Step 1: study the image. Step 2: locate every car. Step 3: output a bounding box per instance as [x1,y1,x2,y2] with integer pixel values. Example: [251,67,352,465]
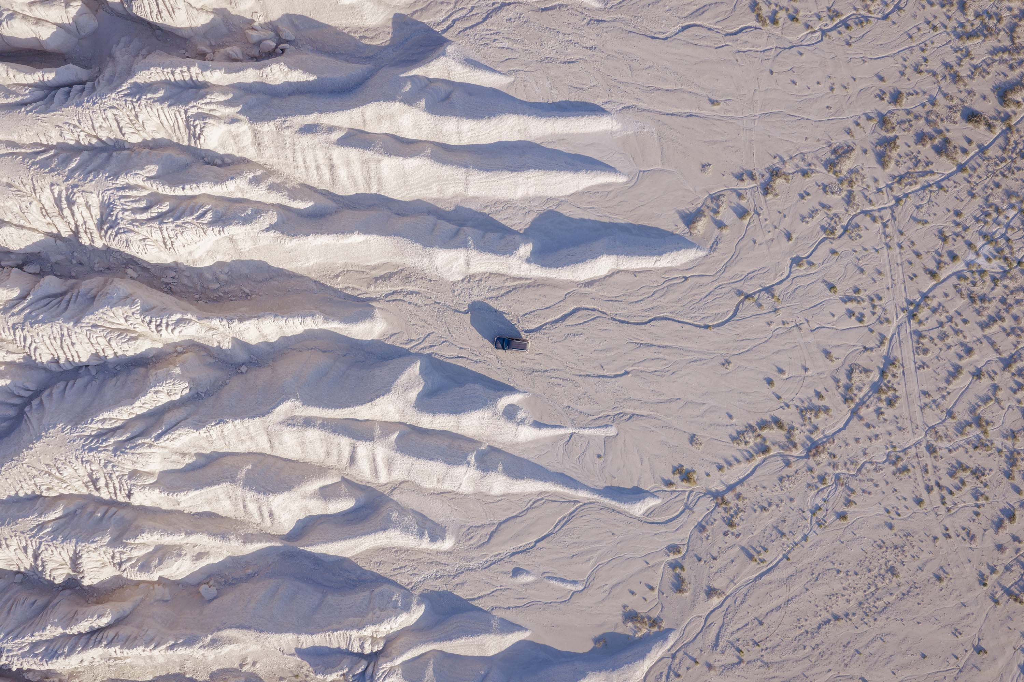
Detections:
[492,335,532,353]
